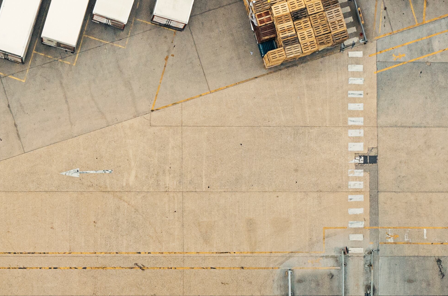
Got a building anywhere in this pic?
No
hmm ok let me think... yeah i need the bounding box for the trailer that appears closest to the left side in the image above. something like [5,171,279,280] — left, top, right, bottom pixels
[0,0,43,66]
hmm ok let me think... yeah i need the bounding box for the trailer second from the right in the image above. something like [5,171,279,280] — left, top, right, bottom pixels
[91,0,134,34]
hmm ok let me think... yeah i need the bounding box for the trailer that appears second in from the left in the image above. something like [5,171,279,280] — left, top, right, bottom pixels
[40,0,90,54]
